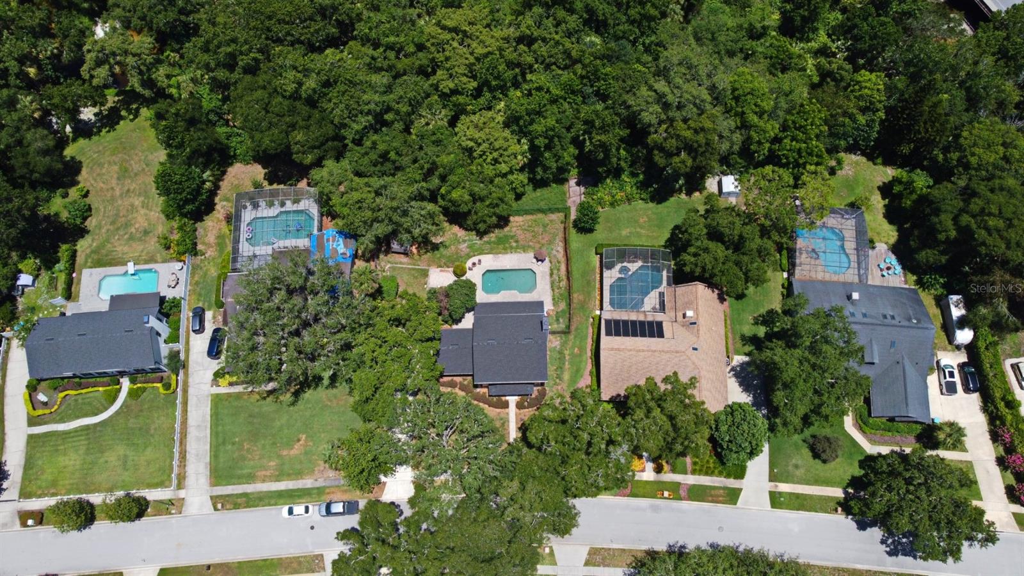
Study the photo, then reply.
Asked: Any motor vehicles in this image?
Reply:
Yes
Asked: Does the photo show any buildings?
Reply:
Yes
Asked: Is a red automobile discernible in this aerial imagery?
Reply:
No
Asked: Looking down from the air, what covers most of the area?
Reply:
trees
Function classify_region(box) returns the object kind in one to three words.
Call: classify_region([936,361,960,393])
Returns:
truck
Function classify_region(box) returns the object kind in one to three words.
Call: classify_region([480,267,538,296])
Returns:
swimming pool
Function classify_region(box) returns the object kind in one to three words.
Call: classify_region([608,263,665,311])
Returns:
swimming pool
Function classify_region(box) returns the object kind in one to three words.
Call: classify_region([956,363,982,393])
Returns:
car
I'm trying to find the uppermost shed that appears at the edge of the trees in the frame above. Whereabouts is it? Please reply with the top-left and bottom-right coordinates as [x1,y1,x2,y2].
[719,176,740,200]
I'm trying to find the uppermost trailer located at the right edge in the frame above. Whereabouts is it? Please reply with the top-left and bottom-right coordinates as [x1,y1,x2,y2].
[937,299,974,353]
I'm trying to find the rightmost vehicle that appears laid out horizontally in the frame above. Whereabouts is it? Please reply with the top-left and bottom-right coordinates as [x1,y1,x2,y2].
[319,499,360,517]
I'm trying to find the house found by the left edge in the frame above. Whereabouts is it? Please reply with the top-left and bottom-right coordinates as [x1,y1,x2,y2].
[26,294,173,381]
